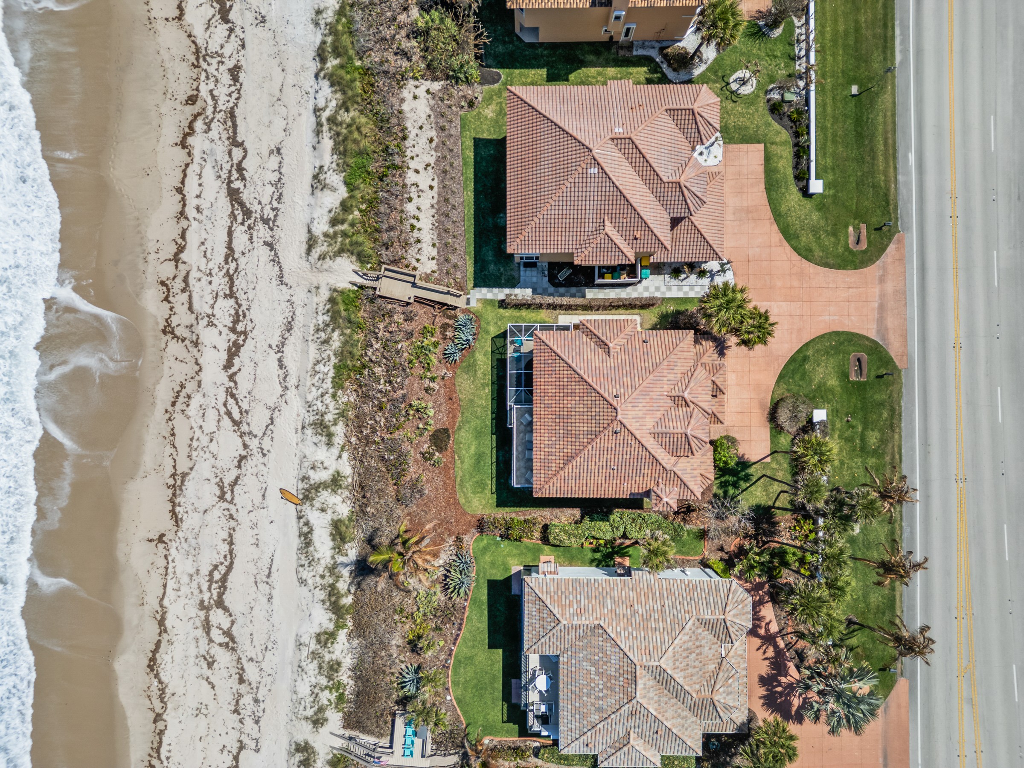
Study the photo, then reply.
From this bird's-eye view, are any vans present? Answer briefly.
No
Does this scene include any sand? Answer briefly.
Yes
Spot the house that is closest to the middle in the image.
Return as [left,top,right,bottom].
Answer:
[532,317,728,513]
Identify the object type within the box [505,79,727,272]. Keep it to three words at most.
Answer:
house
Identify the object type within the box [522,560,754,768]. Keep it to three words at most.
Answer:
house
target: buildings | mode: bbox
[504,0,714,55]
[522,560,754,768]
[532,317,728,513]
[505,79,727,272]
